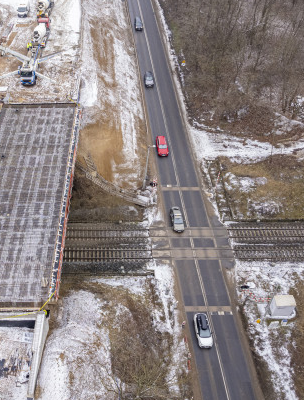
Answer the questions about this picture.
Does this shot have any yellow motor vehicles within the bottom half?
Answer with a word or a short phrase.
No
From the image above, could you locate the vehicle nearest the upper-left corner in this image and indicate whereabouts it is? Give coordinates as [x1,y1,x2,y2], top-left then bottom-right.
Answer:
[14,0,27,17]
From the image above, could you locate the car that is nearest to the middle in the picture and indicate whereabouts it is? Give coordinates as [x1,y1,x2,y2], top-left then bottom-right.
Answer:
[168,203,185,228]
